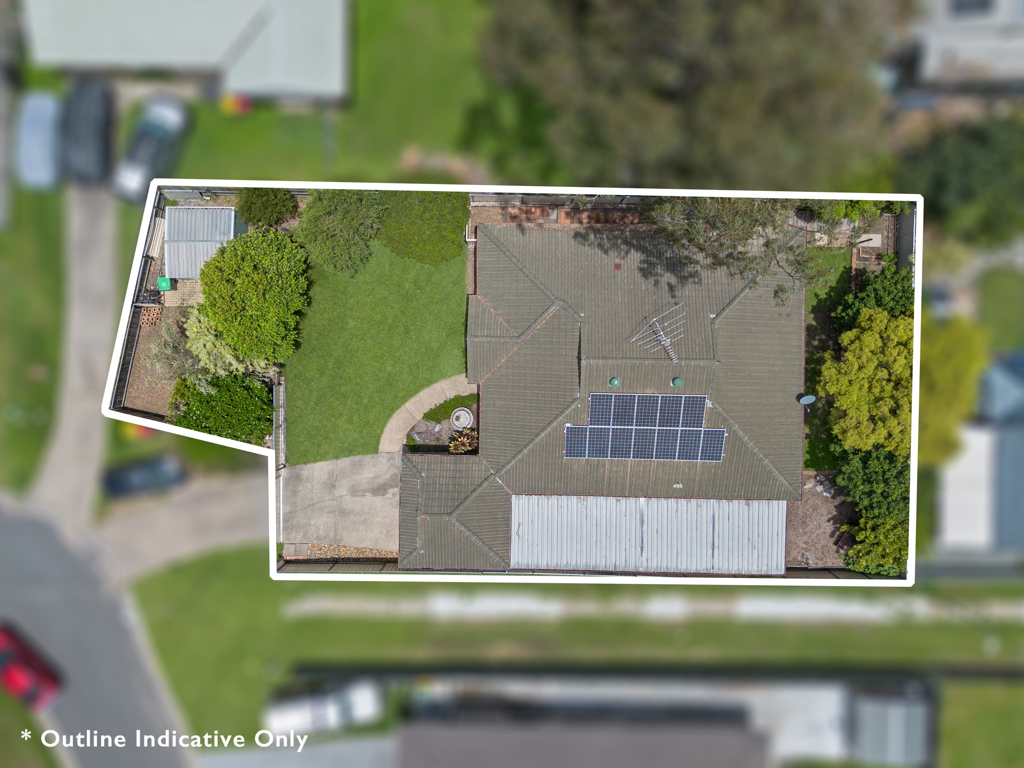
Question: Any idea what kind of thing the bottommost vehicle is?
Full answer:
The bottommost vehicle is a truck.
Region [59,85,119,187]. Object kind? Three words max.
van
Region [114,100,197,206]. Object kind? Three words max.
car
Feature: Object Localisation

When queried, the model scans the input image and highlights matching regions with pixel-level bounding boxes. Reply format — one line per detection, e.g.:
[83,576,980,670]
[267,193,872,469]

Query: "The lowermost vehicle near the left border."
[0,614,74,708]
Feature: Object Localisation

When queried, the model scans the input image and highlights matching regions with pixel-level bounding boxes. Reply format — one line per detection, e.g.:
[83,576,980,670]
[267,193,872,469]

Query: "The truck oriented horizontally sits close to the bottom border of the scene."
[264,677,383,740]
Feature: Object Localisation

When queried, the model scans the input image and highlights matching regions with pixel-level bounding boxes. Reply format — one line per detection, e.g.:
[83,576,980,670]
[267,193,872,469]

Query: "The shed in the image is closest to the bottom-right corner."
[839,690,923,763]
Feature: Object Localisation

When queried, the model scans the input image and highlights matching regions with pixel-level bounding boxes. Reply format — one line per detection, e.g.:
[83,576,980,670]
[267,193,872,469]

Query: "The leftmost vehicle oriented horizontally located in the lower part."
[108,450,195,497]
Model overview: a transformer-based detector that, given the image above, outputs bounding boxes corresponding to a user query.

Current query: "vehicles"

[108,450,195,497]
[0,614,74,708]
[114,100,197,206]
[59,85,119,187]
[264,677,383,740]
